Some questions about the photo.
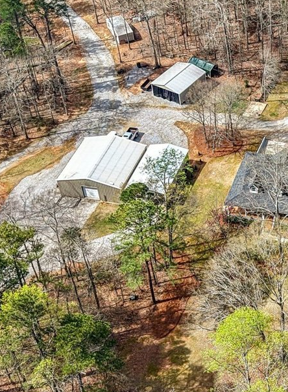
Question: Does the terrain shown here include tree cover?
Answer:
Yes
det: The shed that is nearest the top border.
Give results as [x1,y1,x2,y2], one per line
[110,14,134,45]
